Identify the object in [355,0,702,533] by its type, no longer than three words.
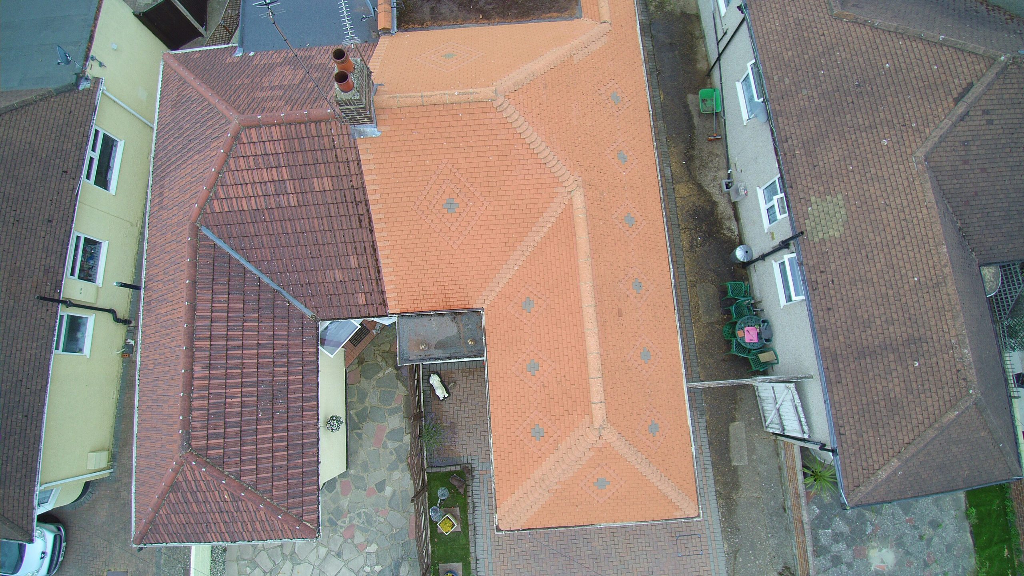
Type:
house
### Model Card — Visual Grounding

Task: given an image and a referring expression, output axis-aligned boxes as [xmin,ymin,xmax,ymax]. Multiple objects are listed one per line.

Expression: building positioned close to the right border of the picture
[696,0,1024,510]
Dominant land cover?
buildings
